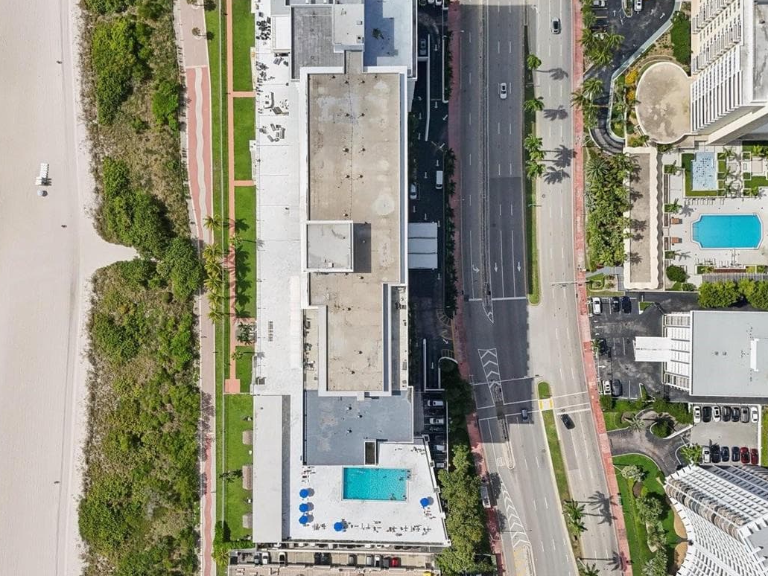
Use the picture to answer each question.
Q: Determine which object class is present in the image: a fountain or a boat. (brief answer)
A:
fountain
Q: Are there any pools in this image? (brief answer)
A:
Yes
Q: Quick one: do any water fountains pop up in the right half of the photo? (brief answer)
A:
Yes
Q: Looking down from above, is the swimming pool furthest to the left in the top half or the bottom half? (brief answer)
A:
bottom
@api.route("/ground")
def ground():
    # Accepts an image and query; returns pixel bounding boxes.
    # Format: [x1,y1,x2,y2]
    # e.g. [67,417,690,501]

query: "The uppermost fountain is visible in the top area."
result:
[692,152,717,191]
